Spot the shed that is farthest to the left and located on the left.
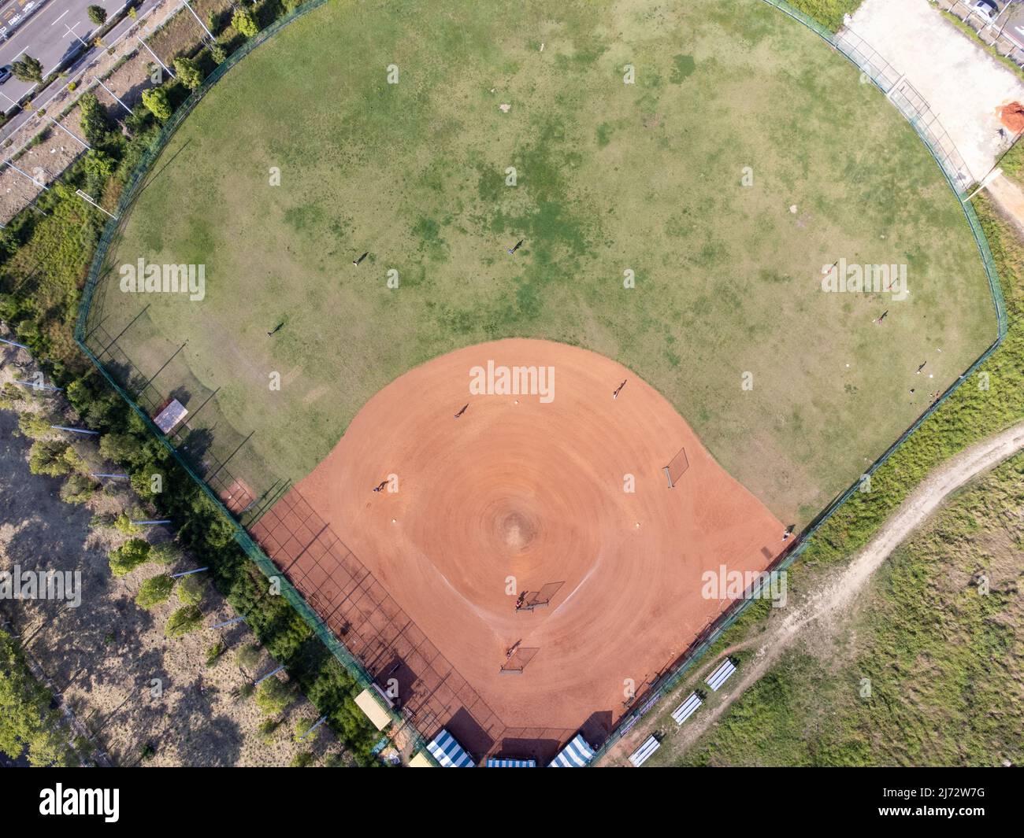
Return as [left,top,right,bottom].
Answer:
[154,399,188,433]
